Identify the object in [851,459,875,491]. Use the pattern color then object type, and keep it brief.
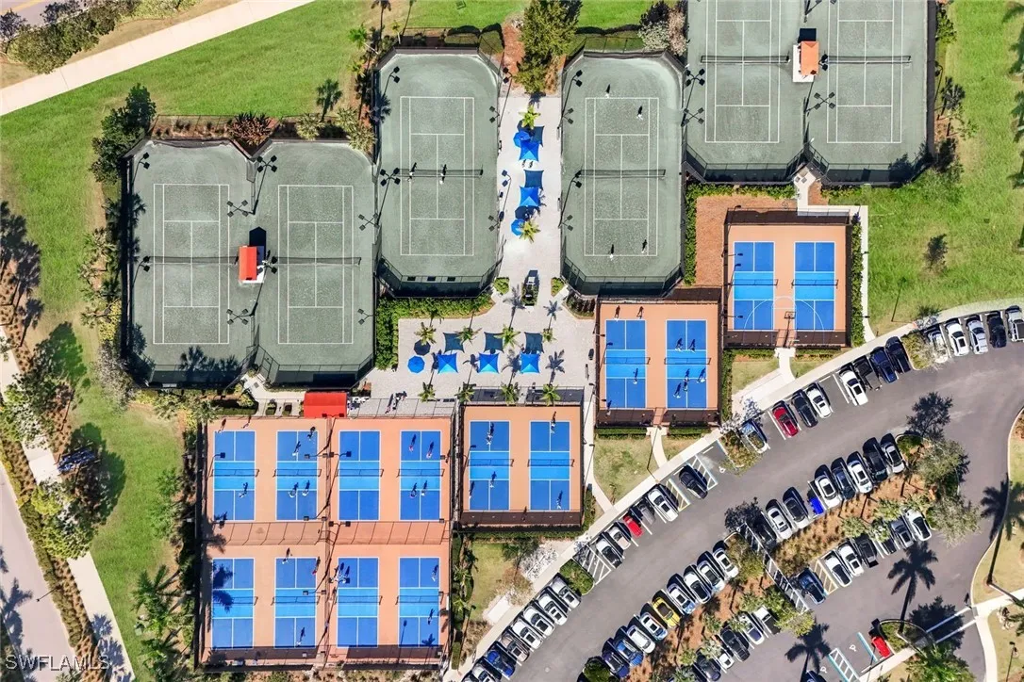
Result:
white car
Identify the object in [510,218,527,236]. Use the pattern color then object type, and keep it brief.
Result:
blue umbrella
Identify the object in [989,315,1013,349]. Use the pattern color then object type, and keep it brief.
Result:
black car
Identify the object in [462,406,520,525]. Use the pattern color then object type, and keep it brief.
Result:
blue sports court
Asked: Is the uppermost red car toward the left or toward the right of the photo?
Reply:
right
